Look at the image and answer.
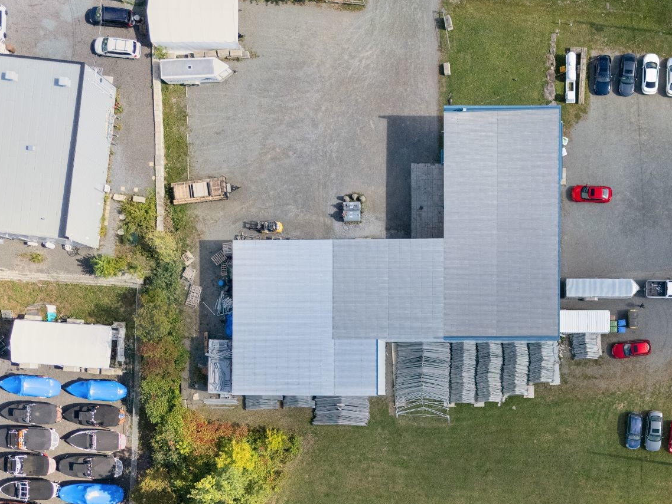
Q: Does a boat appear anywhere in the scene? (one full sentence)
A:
Yes, a boat is visible in the scene.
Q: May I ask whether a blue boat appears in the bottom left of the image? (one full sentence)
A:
Yes, in the bottom left of the image there is a blue boat.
